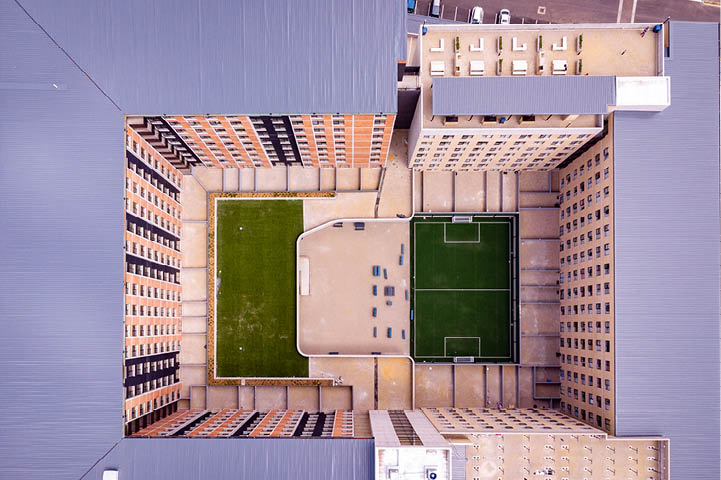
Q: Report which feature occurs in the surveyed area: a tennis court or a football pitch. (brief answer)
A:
football pitch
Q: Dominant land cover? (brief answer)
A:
buildings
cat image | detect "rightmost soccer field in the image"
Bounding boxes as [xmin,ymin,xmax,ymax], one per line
[410,214,516,364]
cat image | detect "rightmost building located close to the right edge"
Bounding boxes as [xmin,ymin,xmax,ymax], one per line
[560,20,720,480]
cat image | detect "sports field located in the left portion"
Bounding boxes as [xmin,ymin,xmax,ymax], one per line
[213,198,335,384]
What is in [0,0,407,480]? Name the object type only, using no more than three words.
building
